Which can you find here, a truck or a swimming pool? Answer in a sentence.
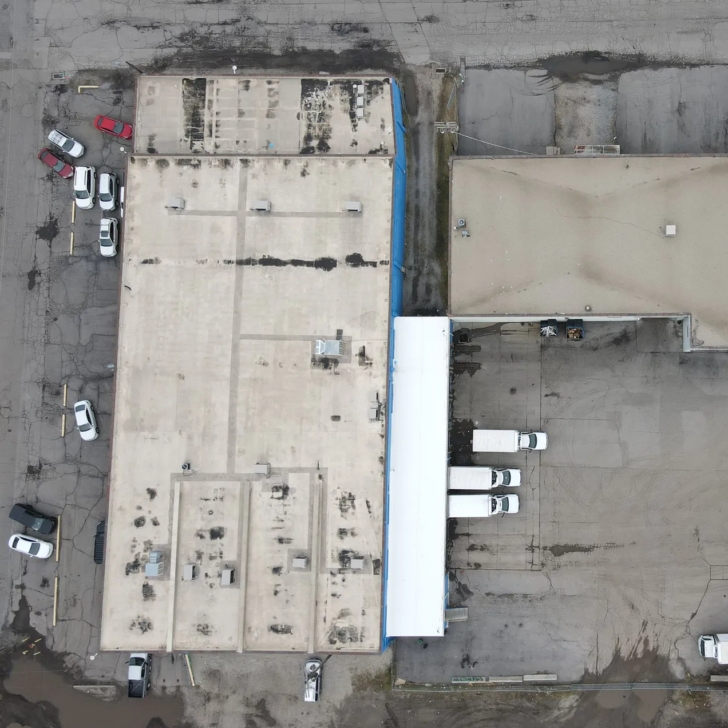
It is a truck that can be seen here.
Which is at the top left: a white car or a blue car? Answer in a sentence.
There is a white car at the top left.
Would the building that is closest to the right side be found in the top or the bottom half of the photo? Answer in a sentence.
The building that is closest to the right side sits in the top half of the picture.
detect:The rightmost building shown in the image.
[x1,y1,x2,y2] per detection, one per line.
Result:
[449,155,728,353]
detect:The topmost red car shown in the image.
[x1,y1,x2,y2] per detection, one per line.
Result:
[93,114,134,141]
